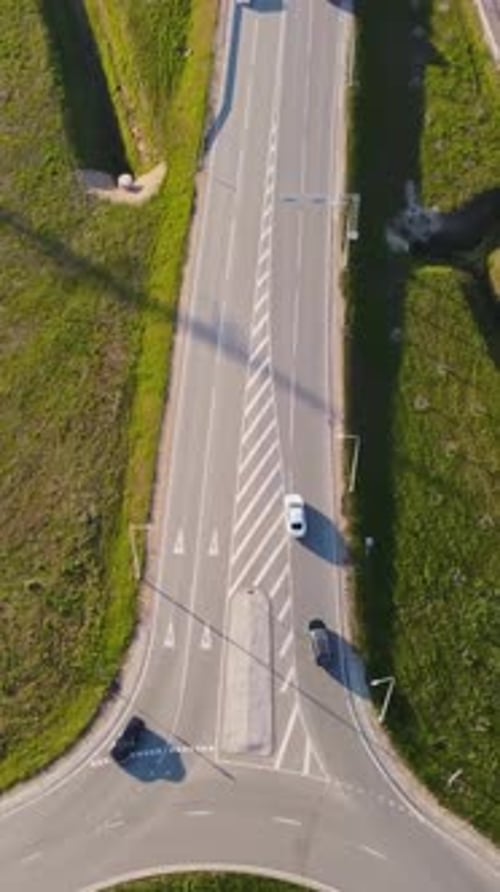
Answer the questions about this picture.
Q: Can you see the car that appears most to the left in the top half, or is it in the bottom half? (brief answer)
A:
bottom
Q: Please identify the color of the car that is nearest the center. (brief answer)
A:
white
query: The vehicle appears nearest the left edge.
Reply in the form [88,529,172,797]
[107,714,148,771]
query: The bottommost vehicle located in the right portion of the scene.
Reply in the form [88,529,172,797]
[308,622,335,671]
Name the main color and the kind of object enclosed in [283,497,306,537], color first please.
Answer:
white car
